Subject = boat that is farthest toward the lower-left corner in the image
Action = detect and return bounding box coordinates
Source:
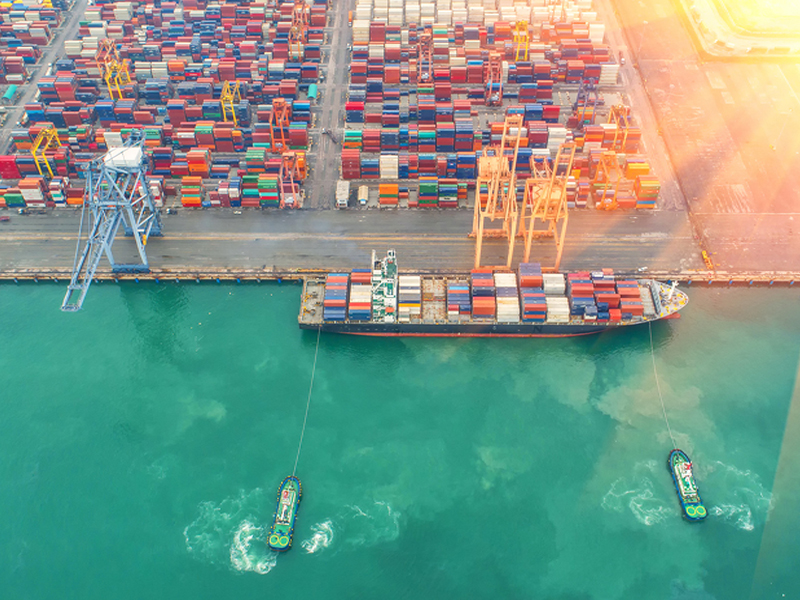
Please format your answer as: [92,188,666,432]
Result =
[266,474,302,553]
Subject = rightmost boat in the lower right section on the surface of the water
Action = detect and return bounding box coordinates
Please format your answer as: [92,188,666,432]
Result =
[665,448,709,523]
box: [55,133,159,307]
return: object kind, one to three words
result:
container crane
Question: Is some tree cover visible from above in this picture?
No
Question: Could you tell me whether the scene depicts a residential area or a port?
port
